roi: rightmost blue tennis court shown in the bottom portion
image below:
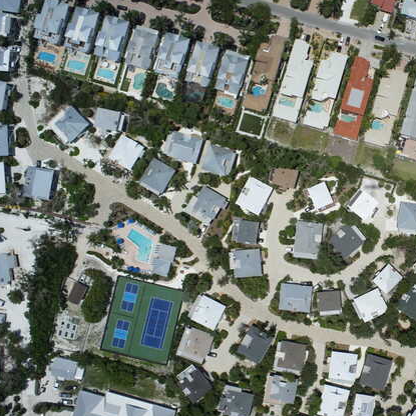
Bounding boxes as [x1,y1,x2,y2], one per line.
[141,298,173,349]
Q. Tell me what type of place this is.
residential area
